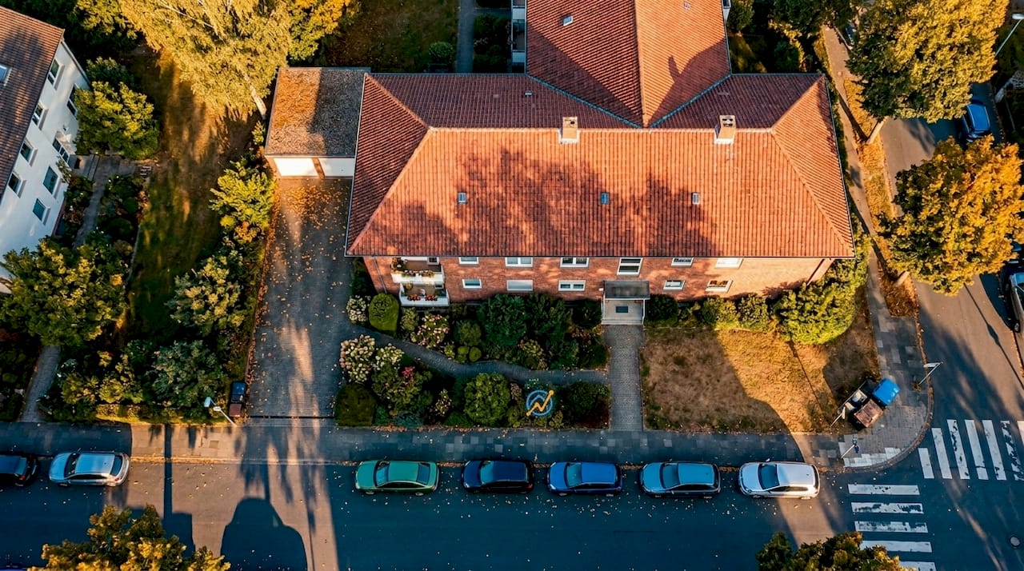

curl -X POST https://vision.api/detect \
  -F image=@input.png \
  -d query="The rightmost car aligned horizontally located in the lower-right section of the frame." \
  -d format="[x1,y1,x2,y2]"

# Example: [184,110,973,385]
[737,459,821,499]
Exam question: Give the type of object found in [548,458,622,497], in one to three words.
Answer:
car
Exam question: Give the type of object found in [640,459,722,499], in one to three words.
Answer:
car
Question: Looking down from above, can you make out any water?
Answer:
No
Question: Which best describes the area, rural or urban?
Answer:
urban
